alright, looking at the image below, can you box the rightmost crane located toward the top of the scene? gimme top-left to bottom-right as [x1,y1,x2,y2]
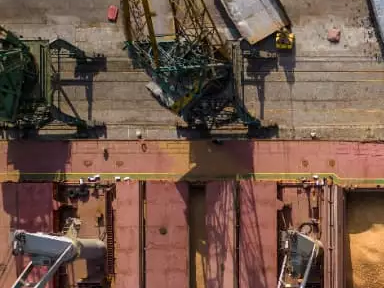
[122,0,280,129]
